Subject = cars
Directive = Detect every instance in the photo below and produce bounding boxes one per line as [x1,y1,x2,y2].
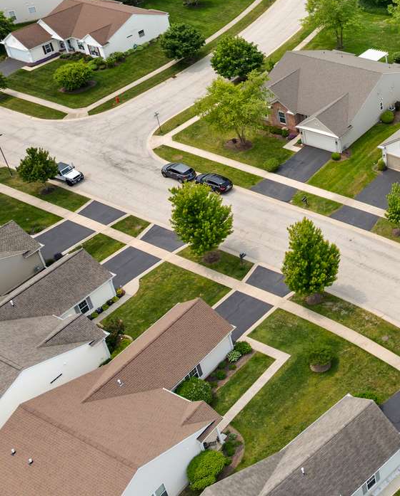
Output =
[51,158,84,187]
[156,161,199,185]
[191,173,235,196]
